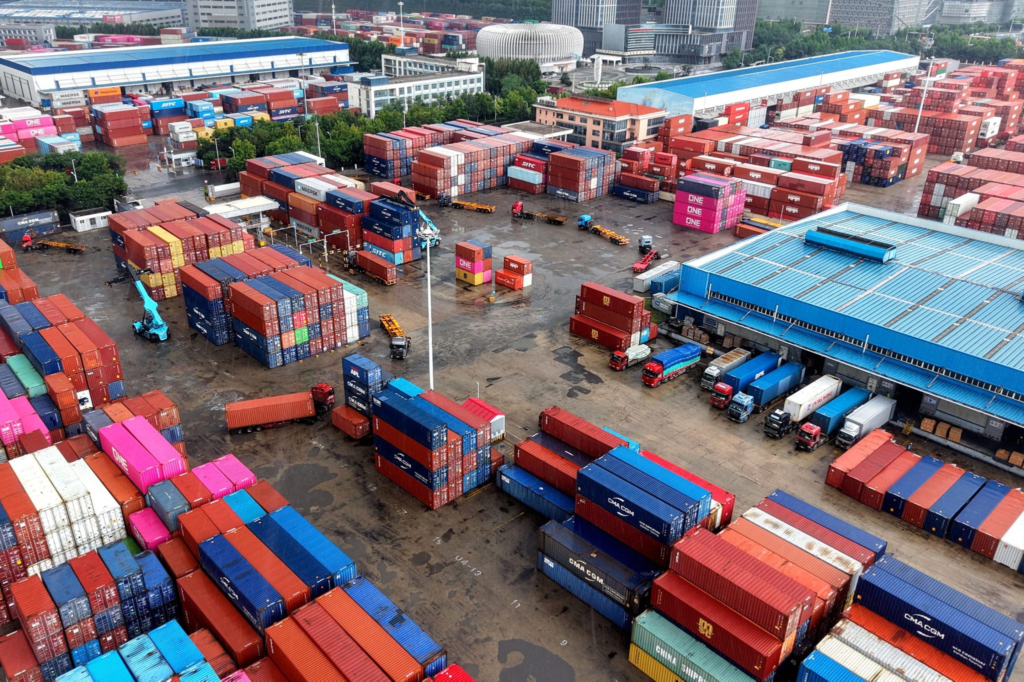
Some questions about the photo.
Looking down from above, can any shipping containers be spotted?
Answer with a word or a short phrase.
Yes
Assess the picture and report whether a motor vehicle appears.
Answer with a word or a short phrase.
Yes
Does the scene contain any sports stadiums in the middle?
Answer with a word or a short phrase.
No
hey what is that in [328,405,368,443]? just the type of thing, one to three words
shipping container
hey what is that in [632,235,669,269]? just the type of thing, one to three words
truck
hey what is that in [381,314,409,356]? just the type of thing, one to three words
truck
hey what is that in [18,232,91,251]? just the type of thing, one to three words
vehicle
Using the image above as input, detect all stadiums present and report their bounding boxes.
[471,17,587,64]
